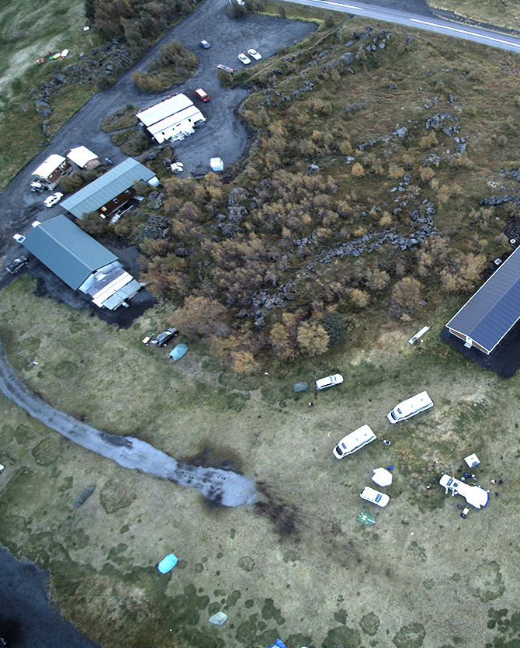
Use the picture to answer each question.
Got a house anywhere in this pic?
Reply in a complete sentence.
Yes, a house can be made out from above.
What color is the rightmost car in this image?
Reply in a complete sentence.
From above, the rightmost car appears white.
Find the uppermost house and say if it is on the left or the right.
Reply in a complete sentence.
The uppermost house is on the left side of the image.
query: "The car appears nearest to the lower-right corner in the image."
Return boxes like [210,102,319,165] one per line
[439,476,468,497]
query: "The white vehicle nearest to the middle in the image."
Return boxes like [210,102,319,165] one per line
[315,374,345,391]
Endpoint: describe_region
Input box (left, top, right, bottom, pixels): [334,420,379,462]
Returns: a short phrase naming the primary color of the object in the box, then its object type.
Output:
white camper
